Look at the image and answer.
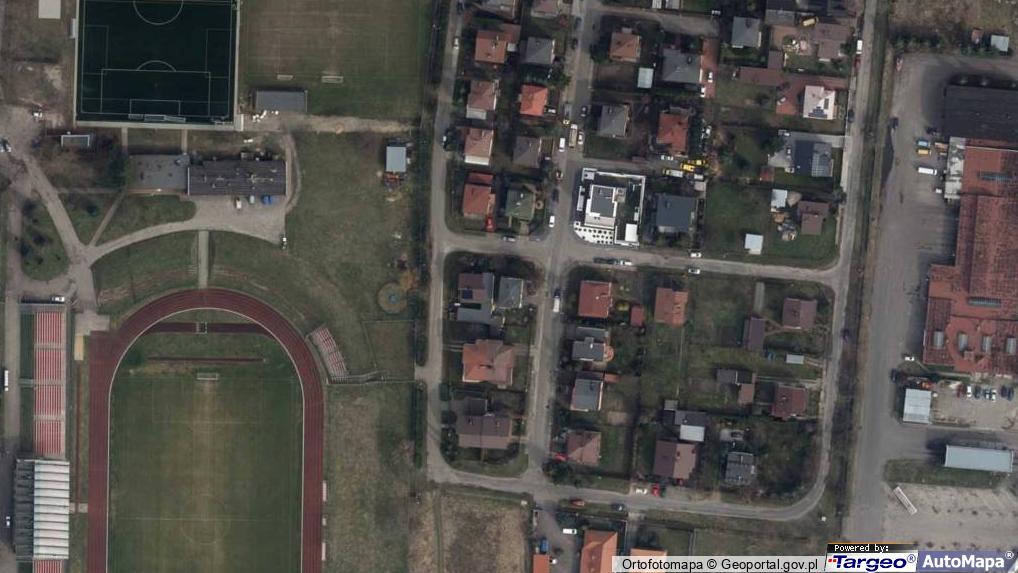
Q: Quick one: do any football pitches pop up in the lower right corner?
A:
No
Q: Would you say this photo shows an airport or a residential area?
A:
residential area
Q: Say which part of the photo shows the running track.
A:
bottom left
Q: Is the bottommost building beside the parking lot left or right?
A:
right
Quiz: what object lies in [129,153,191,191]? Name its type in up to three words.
building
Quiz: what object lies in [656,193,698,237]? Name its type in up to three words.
house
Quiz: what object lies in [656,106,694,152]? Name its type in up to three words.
house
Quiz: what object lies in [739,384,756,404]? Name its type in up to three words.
shed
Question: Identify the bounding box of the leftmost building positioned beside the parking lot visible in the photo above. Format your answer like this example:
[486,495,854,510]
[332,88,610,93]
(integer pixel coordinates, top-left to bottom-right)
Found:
[905,388,933,425]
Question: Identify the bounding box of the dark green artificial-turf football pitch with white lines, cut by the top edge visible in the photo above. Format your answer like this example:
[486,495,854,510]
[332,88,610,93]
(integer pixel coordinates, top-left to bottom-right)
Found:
[77,0,237,122]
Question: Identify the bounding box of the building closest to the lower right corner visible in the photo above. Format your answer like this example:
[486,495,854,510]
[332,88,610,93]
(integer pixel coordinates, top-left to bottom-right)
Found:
[946,446,1015,472]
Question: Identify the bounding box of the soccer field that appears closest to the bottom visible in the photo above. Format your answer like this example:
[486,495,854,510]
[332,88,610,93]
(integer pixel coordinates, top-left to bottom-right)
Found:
[108,309,300,573]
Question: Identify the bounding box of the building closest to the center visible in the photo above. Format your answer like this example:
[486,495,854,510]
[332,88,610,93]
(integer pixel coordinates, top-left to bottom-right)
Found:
[497,278,525,308]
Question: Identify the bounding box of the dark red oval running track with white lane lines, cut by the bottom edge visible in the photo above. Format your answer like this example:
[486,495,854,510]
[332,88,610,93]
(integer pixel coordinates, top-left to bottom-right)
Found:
[77,287,323,573]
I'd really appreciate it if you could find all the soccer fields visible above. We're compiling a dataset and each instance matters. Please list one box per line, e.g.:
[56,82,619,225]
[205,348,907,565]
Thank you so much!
[77,0,237,122]
[108,309,300,573]
[247,0,417,79]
